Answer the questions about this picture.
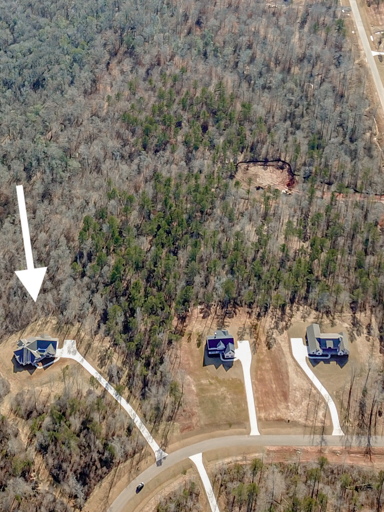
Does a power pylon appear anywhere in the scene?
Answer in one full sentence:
No, there isn't any power pylon down there.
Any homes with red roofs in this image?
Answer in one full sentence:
No, I can't see a single home with a red roof in this photo.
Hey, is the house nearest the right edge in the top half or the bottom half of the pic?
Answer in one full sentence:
The house nearest the right edge sits in the bottom half of the picture.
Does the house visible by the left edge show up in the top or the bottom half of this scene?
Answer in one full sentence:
It is in the bottom half that the house visible by the left edge appears.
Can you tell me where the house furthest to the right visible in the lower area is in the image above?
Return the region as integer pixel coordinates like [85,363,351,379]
[308,322,349,357]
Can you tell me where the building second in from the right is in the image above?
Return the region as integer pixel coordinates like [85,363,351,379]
[206,322,235,358]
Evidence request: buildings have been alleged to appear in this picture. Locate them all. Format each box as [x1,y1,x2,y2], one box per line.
[206,322,235,358]
[14,329,59,367]
[308,322,349,357]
